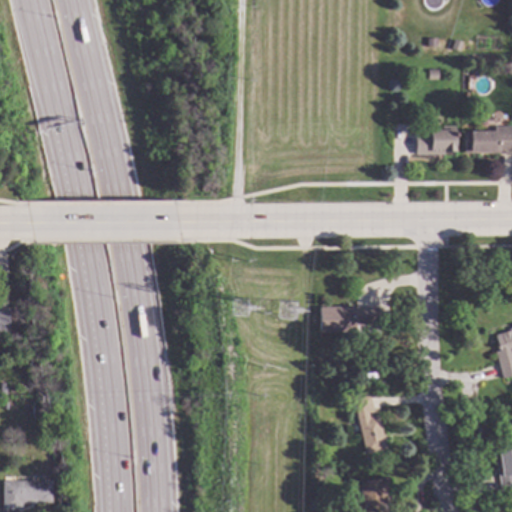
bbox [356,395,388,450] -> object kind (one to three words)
house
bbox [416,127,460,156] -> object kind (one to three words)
house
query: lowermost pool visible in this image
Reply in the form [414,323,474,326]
[466,74,493,94]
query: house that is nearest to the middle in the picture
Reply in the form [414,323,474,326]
[318,307,370,335]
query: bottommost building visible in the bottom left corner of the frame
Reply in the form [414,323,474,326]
[4,479,55,508]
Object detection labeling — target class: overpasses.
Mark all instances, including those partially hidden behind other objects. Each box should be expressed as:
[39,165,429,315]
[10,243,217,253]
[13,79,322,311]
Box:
[28,198,182,244]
